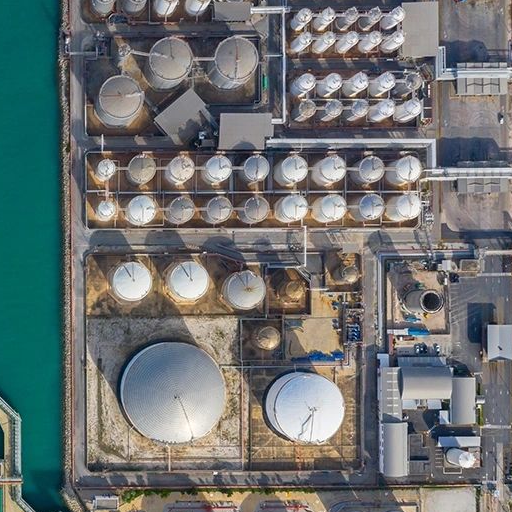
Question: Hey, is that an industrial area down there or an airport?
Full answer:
This looks like an industrial area.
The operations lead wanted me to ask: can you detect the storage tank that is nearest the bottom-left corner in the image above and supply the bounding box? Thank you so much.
[117,338,226,446]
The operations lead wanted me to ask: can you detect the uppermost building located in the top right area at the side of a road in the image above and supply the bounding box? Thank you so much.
[396,2,438,60]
